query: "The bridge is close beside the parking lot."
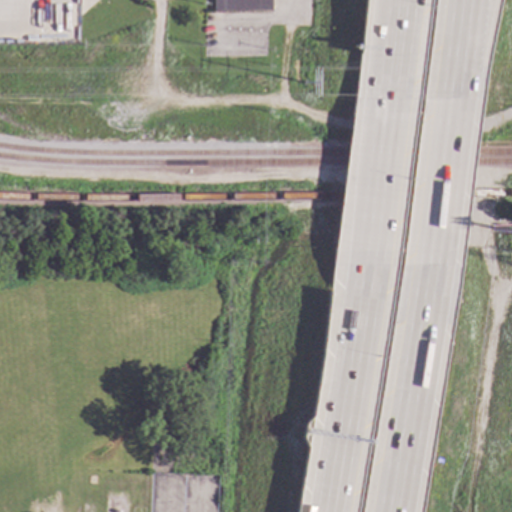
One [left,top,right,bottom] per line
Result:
[302,0,505,512]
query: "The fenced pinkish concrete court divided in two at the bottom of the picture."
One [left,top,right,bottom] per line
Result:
[152,473,220,512]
